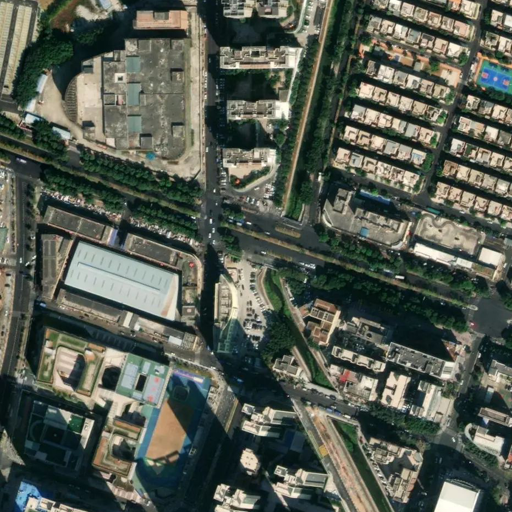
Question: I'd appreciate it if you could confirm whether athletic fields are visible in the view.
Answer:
Yes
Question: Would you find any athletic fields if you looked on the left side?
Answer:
Yes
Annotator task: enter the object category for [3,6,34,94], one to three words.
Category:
shed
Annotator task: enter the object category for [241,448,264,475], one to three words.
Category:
building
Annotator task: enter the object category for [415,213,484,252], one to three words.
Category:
building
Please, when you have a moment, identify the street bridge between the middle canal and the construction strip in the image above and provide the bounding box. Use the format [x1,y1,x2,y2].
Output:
[304,375,352,417]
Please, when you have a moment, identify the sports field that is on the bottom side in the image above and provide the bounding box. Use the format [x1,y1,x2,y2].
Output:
[134,368,210,504]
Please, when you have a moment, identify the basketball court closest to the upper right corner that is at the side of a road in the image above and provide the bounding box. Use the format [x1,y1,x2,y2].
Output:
[473,61,512,97]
